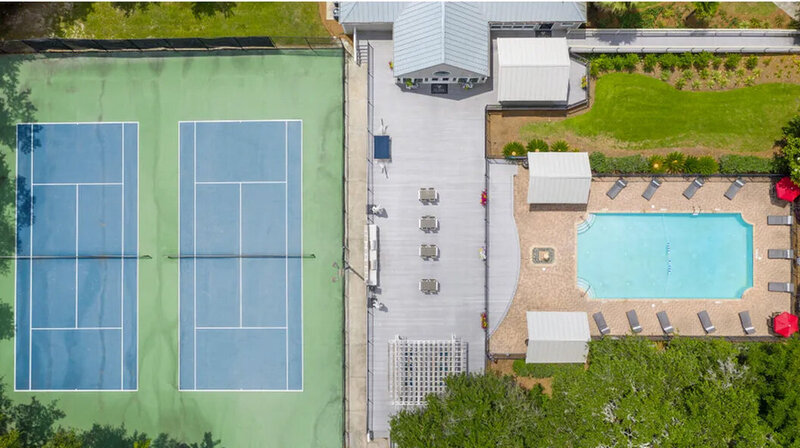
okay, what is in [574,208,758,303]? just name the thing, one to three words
swimming pool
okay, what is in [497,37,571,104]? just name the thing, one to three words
building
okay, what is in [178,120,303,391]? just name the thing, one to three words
tennis court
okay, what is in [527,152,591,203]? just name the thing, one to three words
building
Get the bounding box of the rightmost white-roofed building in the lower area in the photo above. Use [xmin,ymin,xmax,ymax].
[526,311,592,363]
